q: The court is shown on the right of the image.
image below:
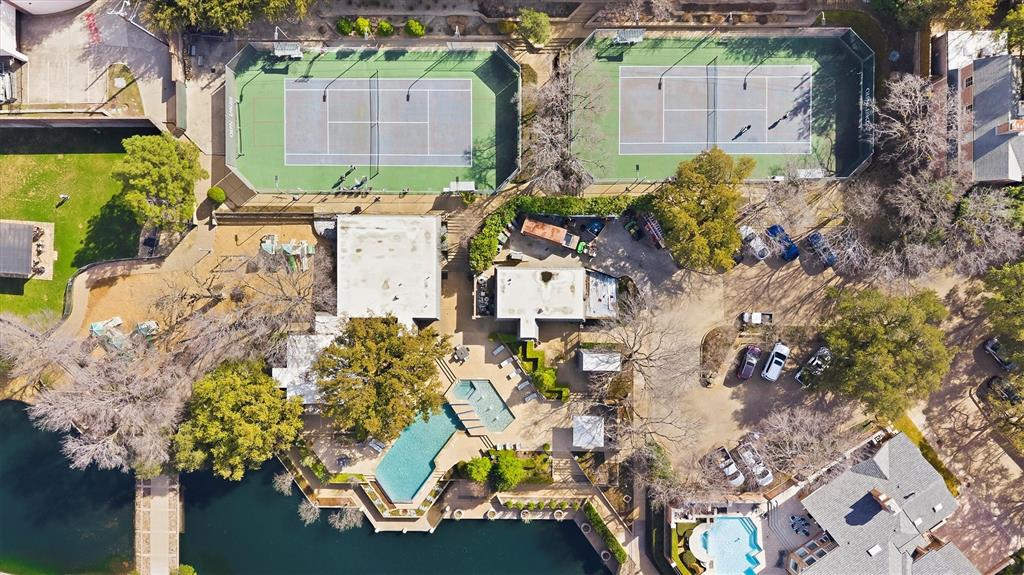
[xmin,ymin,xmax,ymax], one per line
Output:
[568,37,862,187]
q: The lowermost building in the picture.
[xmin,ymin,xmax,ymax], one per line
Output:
[783,432,980,575]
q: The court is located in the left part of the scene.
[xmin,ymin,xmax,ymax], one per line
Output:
[236,50,521,196]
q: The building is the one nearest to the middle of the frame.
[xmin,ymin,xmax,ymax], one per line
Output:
[497,267,585,338]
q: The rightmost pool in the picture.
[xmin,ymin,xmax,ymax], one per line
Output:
[690,513,768,575]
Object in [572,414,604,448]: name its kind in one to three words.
building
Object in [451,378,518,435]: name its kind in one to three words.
swimming pool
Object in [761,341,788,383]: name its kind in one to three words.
car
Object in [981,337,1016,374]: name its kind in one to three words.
car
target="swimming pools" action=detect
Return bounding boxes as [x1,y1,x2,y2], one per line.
[690,513,768,575]
[451,378,518,435]
[373,359,493,505]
